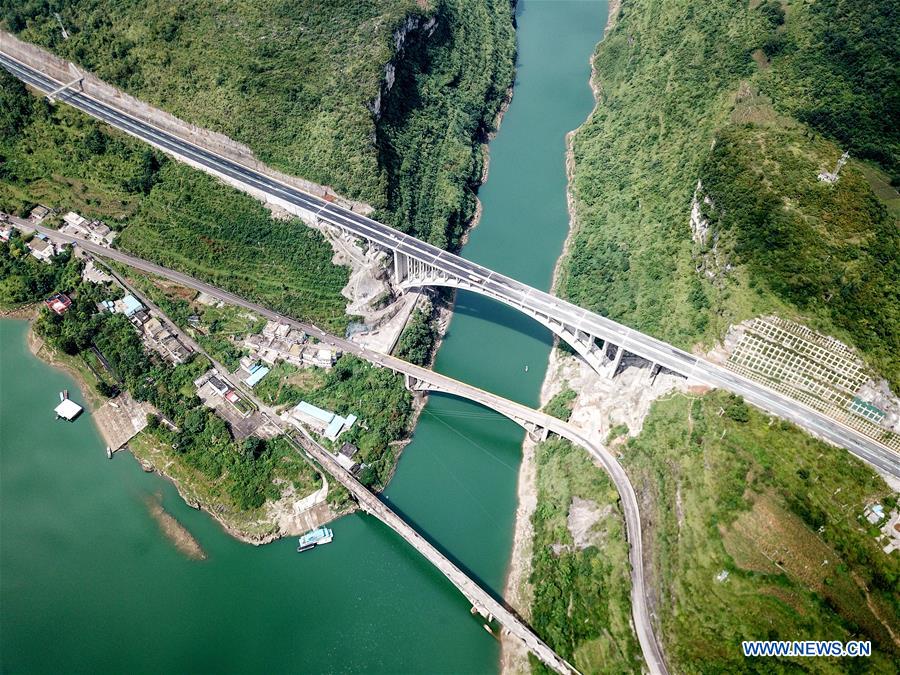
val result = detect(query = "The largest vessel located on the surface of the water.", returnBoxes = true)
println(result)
[299,529,332,548]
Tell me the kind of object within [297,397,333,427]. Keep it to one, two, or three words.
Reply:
house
